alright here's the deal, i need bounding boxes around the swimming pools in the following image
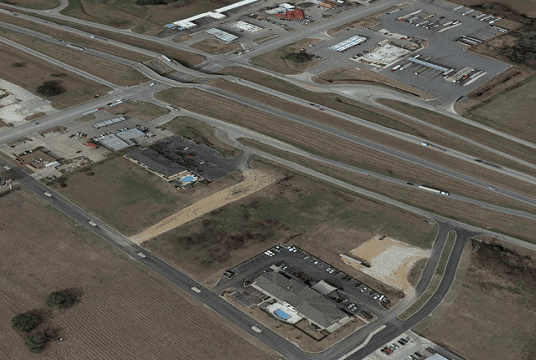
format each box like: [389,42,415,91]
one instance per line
[267,303,301,323]
[174,172,202,188]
